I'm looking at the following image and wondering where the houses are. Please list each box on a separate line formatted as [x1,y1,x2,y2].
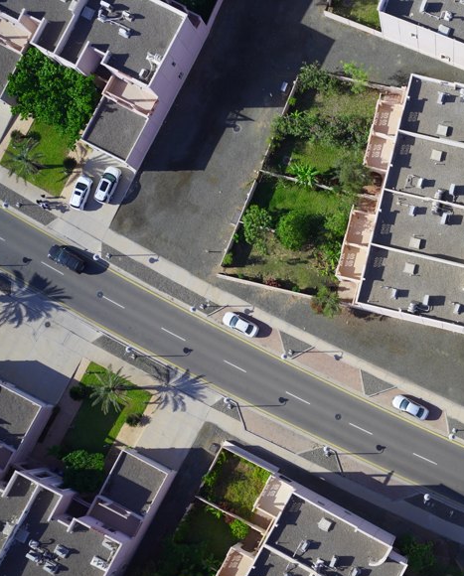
[0,0,210,170]
[0,374,179,576]
[334,75,464,332]
[379,0,464,66]
[221,475,412,576]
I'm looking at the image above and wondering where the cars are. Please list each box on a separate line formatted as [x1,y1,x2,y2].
[391,395,430,420]
[95,166,123,205]
[223,310,260,338]
[49,244,90,275]
[69,174,94,210]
